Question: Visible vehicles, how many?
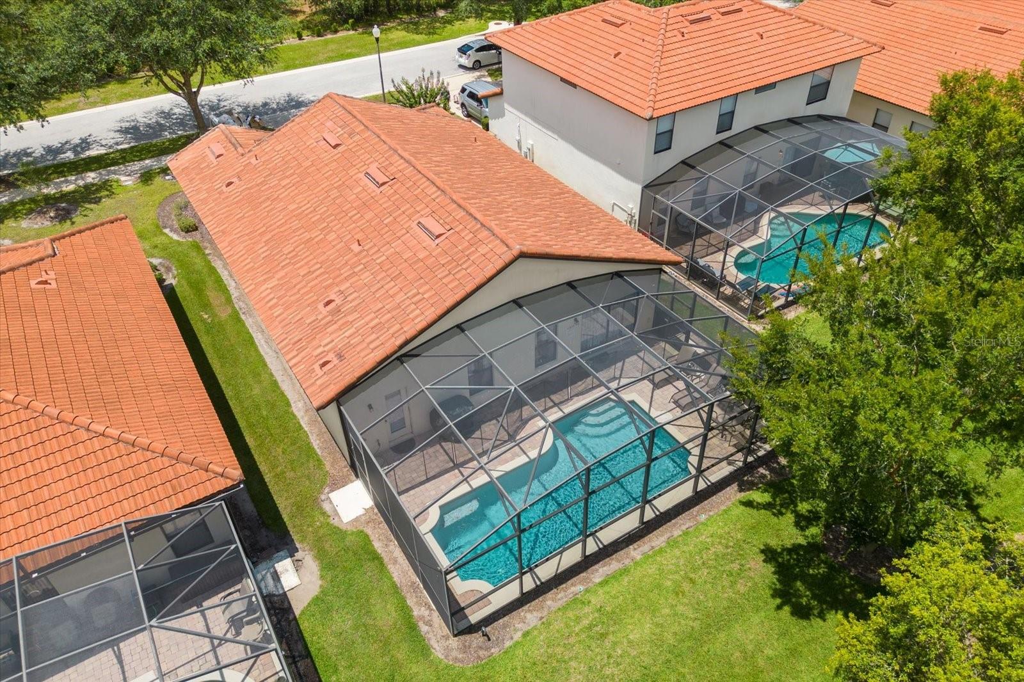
2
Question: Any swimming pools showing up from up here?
Yes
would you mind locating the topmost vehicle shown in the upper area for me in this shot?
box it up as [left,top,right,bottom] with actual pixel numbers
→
[454,35,501,69]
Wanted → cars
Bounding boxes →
[454,35,501,69]
[454,72,504,128]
